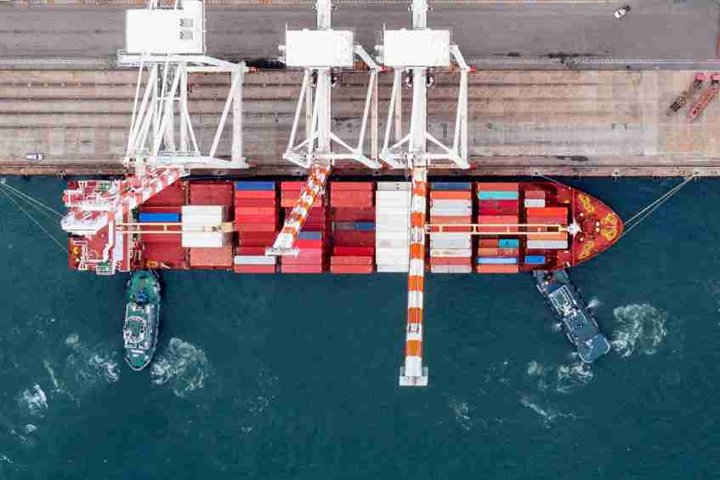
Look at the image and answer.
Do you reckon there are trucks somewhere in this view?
Yes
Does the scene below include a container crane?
Yes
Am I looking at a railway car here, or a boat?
boat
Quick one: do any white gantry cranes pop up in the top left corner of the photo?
Yes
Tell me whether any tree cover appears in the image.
No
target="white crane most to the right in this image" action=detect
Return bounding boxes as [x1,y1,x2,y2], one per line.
[378,0,484,384]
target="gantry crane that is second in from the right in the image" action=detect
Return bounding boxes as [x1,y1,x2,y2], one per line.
[261,0,396,259]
